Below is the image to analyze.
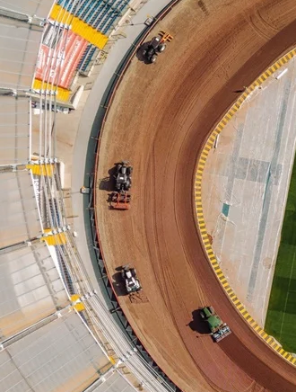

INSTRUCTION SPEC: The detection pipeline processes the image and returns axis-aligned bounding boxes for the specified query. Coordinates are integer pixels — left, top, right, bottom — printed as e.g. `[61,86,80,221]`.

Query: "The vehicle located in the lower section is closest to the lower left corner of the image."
[116,255,144,297]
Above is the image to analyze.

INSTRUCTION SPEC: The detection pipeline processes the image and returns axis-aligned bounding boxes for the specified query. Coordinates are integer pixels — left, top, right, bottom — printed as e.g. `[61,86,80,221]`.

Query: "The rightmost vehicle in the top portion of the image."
[138,30,176,59]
